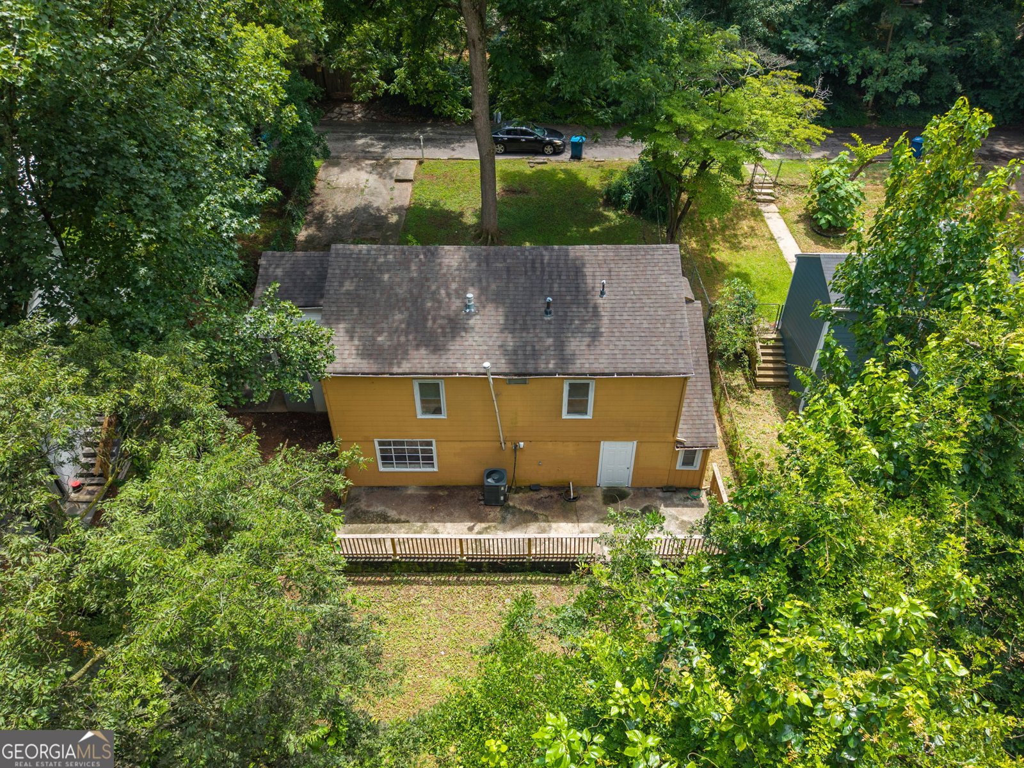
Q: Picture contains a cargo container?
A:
No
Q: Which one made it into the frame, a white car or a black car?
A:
black car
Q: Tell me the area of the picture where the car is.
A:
top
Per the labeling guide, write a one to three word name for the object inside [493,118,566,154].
car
